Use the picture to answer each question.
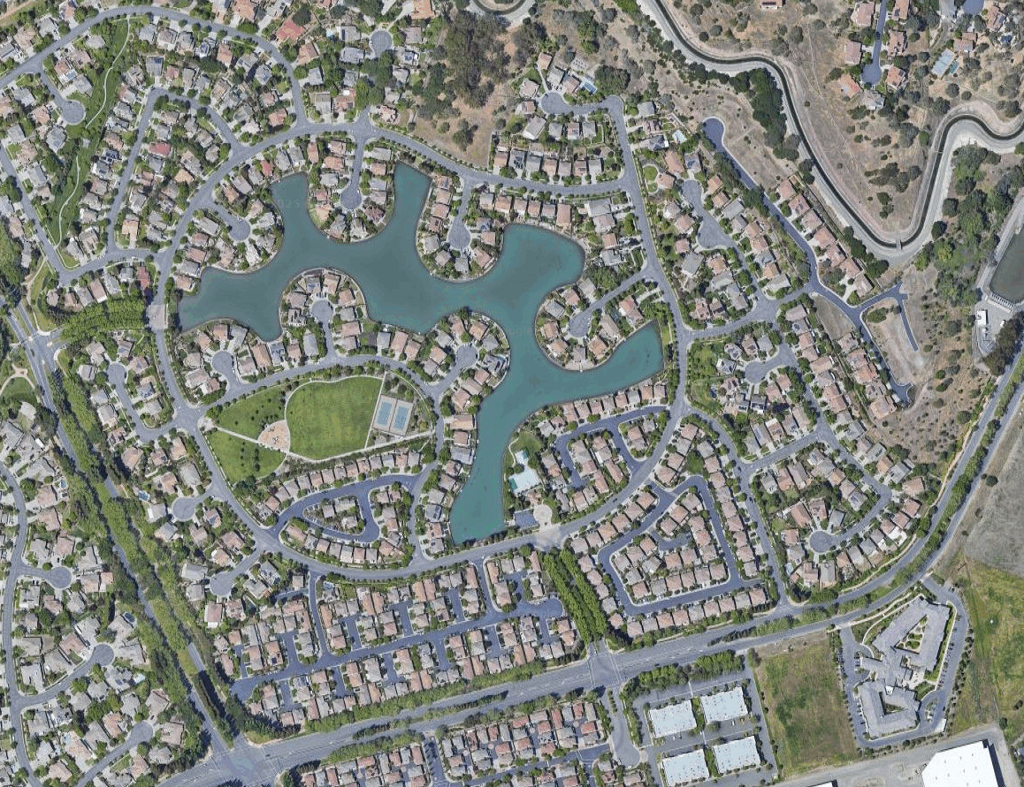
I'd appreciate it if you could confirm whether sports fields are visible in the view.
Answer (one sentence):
Yes, this view includes a sports field.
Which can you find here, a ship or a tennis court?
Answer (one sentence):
The one in the frame is a tennis court.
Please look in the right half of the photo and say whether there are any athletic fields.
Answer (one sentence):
No, in the right half of the photo there is no athletic field.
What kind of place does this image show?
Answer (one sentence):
This image shows a residential area.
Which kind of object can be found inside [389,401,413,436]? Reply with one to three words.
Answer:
tennis court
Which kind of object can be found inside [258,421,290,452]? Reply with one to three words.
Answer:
playground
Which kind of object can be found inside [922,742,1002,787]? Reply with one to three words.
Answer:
building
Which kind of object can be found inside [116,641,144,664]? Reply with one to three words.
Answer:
house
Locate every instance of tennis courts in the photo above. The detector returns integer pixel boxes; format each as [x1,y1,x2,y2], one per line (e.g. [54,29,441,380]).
[373,396,397,431]
[932,48,956,77]
[389,401,413,436]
